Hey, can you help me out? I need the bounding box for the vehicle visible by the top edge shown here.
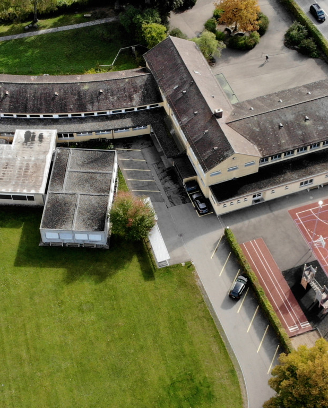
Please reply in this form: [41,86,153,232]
[310,2,325,19]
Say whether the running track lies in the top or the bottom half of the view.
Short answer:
bottom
